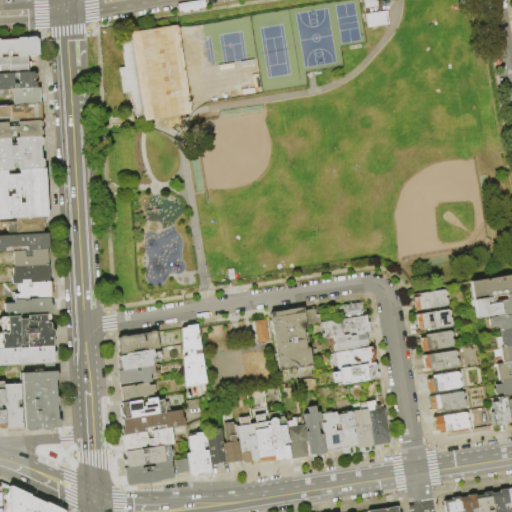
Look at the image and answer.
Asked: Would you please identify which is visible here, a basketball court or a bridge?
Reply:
basketball court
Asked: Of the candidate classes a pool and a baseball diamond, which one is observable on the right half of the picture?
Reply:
baseball diamond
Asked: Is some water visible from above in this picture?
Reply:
No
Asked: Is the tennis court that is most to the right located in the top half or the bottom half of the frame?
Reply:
top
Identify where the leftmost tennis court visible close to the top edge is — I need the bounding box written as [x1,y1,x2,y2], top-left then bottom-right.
[204,16,258,66]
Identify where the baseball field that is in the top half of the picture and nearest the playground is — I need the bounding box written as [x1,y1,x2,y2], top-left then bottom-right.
[202,108,272,189]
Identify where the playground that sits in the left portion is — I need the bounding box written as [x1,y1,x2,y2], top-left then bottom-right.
[138,195,194,286]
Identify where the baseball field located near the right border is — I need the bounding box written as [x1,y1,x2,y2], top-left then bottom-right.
[395,159,486,254]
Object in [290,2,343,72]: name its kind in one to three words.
basketball court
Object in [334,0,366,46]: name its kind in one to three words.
tennis court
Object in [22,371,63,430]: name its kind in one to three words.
building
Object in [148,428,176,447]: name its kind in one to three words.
house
